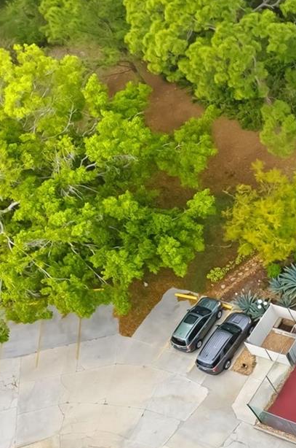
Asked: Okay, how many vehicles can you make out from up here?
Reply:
2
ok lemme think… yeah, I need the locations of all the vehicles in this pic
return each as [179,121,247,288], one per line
[192,310,255,375]
[166,295,224,355]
